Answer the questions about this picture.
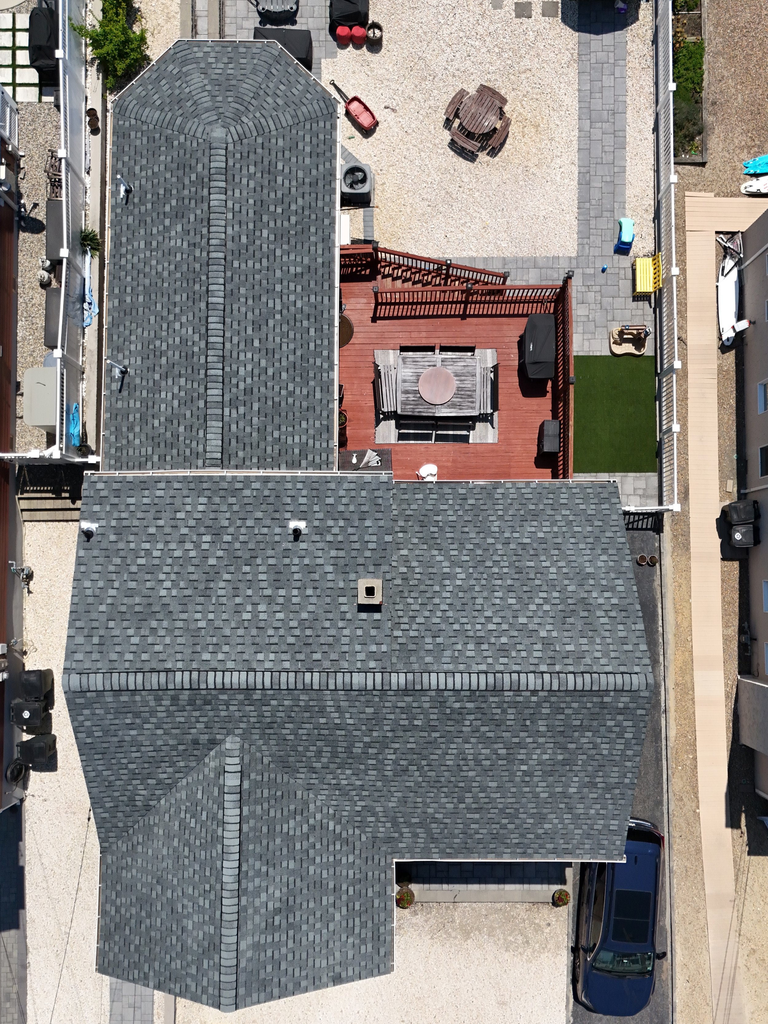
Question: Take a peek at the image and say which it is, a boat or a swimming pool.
boat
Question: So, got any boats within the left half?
No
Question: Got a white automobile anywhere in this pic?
No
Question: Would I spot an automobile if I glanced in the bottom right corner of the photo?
Yes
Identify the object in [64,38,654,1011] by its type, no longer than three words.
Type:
house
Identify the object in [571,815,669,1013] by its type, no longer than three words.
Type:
car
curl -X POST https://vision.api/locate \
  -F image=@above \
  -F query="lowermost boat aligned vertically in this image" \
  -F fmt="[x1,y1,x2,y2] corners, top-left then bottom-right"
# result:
[715,251,742,347]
